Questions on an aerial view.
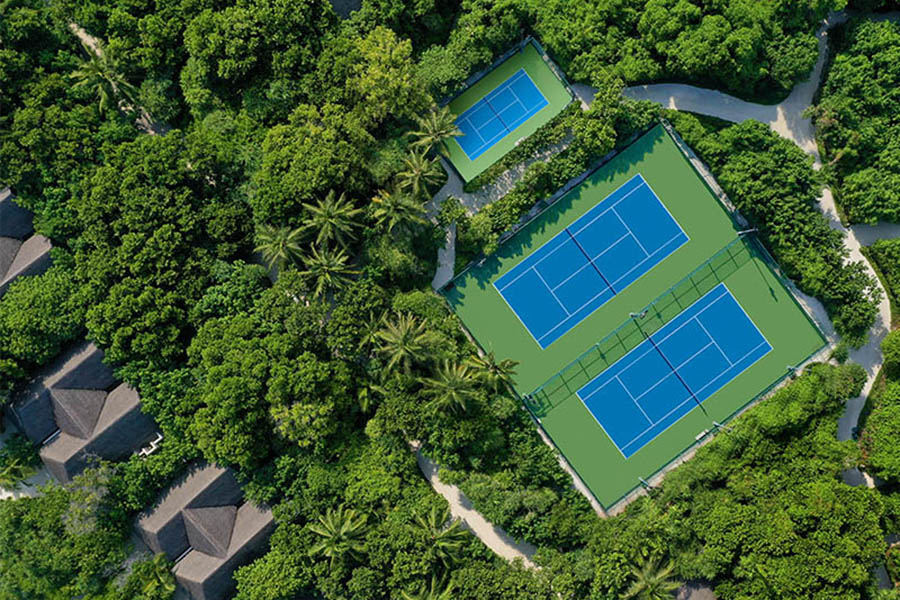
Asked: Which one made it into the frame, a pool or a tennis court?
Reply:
tennis court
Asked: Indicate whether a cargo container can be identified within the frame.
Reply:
No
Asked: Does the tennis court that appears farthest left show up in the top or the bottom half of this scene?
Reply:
top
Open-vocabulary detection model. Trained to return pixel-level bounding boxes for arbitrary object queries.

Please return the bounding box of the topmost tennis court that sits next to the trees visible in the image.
[432,43,572,182]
